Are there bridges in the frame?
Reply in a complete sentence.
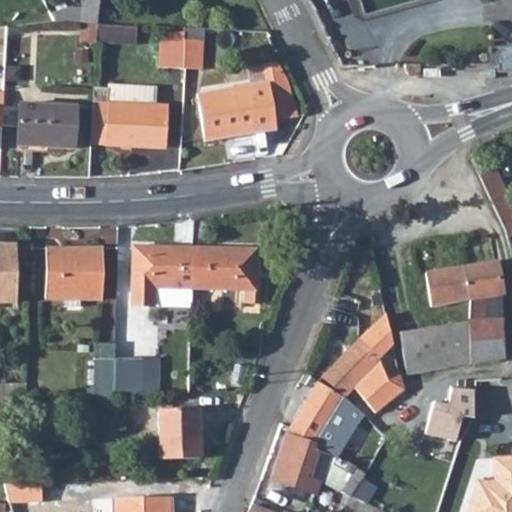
No, there appears to be no bridge in this shot.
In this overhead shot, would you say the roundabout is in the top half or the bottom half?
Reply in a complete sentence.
It is in the top half that the roundabout appears.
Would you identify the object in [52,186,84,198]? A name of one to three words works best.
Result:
vehicle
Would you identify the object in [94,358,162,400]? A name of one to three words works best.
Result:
building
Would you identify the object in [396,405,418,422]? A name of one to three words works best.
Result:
car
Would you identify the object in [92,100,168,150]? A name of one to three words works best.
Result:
house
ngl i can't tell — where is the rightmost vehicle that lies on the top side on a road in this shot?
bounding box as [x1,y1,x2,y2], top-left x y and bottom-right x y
[452,100,476,112]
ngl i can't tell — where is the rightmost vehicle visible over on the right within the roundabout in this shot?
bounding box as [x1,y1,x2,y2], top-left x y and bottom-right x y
[384,169,411,186]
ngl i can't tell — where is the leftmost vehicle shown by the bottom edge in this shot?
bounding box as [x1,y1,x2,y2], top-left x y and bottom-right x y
[264,485,288,502]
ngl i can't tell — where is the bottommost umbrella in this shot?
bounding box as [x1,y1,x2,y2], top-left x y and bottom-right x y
[318,492,332,506]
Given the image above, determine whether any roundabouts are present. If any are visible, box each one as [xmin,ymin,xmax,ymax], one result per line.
[309,92,436,230]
